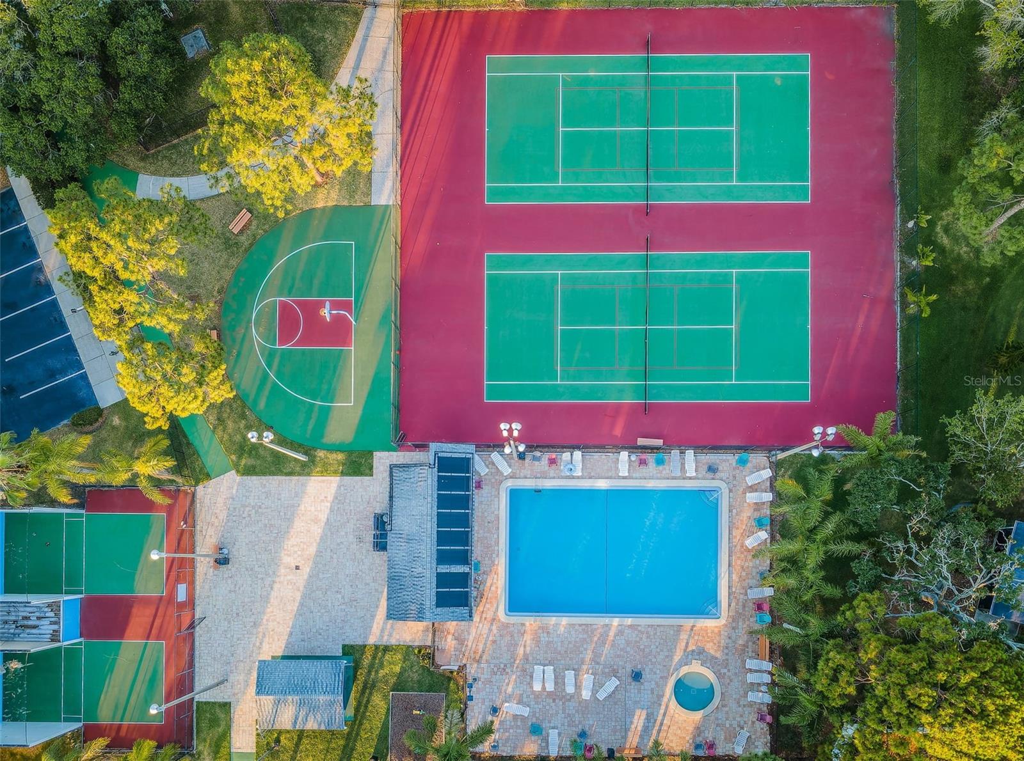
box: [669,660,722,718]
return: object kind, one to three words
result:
swimming pool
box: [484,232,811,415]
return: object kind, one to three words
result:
tennis court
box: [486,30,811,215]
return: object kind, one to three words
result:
tennis court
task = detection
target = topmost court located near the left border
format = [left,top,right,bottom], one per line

[0,504,165,604]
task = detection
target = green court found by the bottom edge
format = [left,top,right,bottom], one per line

[0,638,164,749]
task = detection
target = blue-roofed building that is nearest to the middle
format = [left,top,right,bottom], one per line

[387,442,474,622]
